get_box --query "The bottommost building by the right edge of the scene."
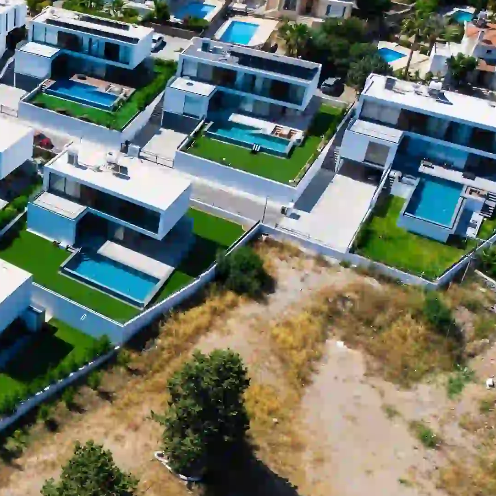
[325,68,496,180]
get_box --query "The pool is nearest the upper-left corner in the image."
[37,74,136,114]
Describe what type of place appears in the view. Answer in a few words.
residential area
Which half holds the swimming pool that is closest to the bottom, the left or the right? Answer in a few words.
left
